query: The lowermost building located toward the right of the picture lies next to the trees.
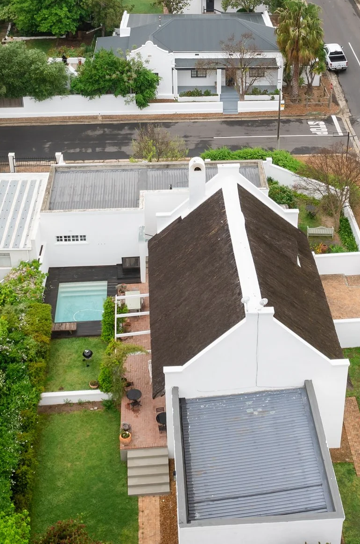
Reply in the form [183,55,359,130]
[121,151,354,544]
